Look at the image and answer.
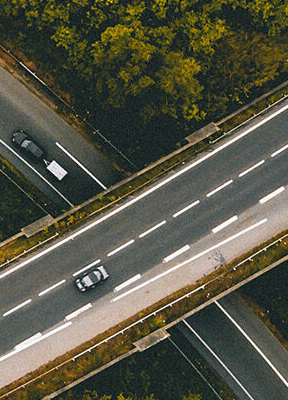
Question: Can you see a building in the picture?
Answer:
No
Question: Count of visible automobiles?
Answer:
two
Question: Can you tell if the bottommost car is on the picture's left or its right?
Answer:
left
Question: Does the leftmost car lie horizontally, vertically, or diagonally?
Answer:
diagonally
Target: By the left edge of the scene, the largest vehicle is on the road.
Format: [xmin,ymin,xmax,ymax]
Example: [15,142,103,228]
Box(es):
[10,129,44,161]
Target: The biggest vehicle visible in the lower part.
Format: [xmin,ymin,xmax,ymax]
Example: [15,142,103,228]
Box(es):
[73,263,108,291]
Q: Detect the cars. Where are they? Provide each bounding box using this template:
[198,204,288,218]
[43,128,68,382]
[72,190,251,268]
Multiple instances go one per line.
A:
[10,129,44,161]
[73,263,108,291]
